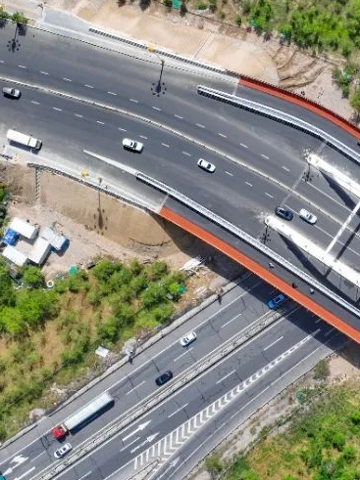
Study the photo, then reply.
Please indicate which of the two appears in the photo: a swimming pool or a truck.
truck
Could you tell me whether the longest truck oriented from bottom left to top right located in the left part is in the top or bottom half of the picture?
bottom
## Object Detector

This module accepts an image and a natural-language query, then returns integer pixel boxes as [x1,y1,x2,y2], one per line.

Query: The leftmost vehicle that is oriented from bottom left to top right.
[52,443,71,459]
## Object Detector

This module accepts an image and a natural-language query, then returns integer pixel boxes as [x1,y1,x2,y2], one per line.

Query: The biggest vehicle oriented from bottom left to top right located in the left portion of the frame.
[52,391,114,440]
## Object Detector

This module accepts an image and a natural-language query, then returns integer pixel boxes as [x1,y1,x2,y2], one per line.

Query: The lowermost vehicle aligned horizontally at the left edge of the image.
[0,130,42,148]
